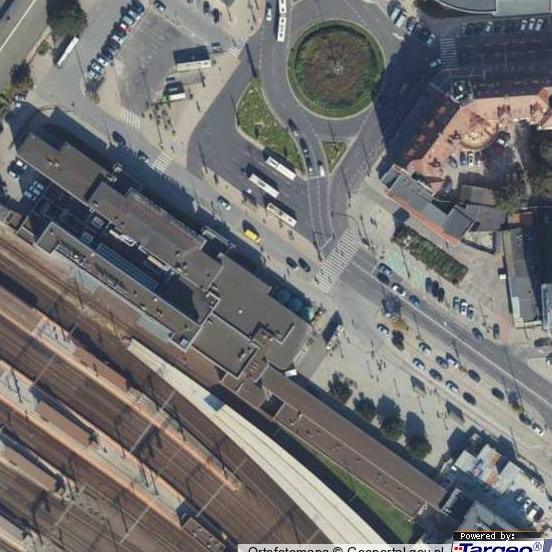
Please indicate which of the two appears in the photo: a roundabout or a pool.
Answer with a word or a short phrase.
roundabout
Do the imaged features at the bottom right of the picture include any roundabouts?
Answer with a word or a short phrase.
No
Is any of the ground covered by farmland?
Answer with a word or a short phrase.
No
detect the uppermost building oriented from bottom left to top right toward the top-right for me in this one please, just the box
[395,77,541,180]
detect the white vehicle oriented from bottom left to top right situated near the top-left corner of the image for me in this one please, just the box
[56,36,80,67]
